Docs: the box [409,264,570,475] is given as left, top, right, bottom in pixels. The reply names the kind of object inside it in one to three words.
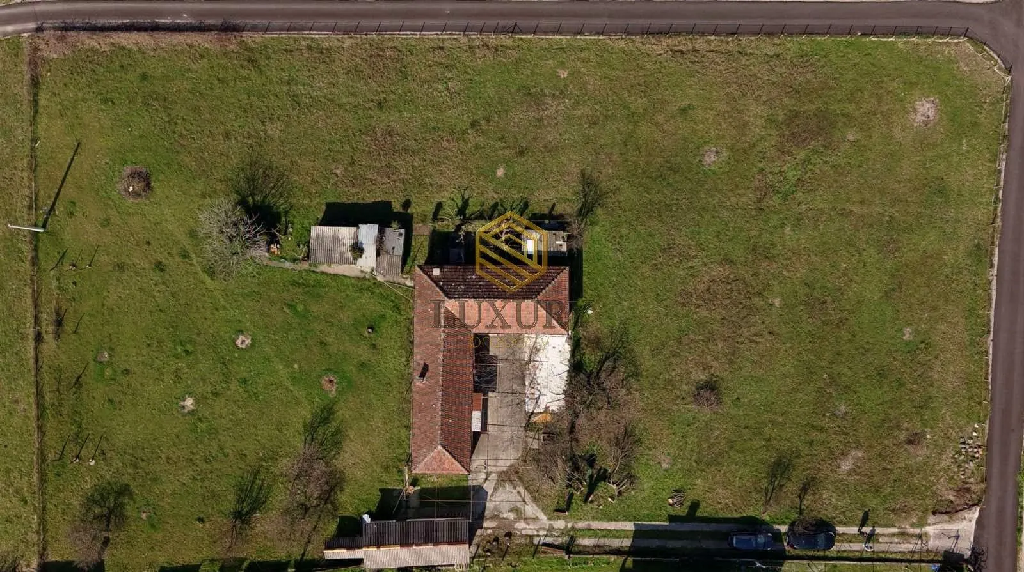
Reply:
house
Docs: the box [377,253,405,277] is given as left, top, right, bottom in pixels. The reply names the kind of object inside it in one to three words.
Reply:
shed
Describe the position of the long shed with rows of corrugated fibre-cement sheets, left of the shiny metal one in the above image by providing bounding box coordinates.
[310,226,359,265]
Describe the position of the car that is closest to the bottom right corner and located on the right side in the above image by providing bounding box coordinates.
[784,529,834,553]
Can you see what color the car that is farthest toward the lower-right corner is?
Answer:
black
